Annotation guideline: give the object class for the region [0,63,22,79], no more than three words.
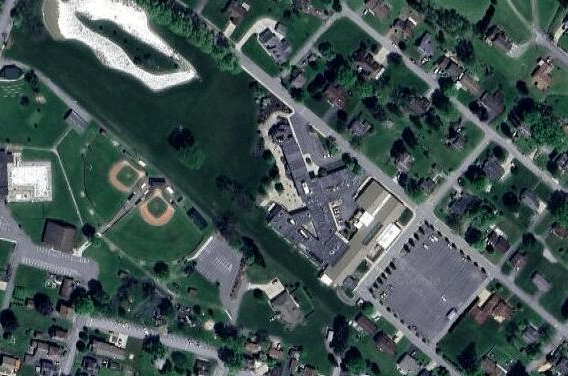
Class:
building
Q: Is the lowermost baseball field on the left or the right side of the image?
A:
left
